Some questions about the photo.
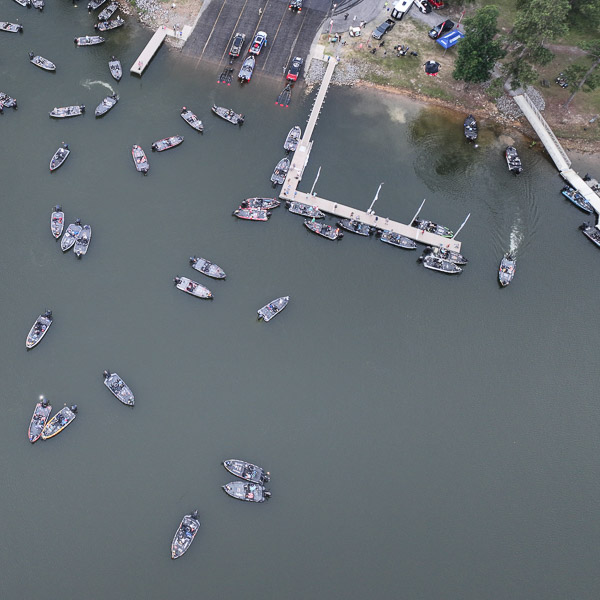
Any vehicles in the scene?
Yes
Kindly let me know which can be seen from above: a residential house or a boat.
boat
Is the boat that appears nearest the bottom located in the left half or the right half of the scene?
left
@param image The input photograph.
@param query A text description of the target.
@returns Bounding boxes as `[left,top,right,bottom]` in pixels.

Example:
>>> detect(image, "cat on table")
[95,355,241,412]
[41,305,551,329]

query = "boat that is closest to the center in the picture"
[258,296,290,323]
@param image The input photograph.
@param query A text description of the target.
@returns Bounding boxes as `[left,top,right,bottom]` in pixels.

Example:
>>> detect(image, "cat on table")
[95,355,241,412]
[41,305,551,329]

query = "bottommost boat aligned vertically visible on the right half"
[500,254,518,286]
